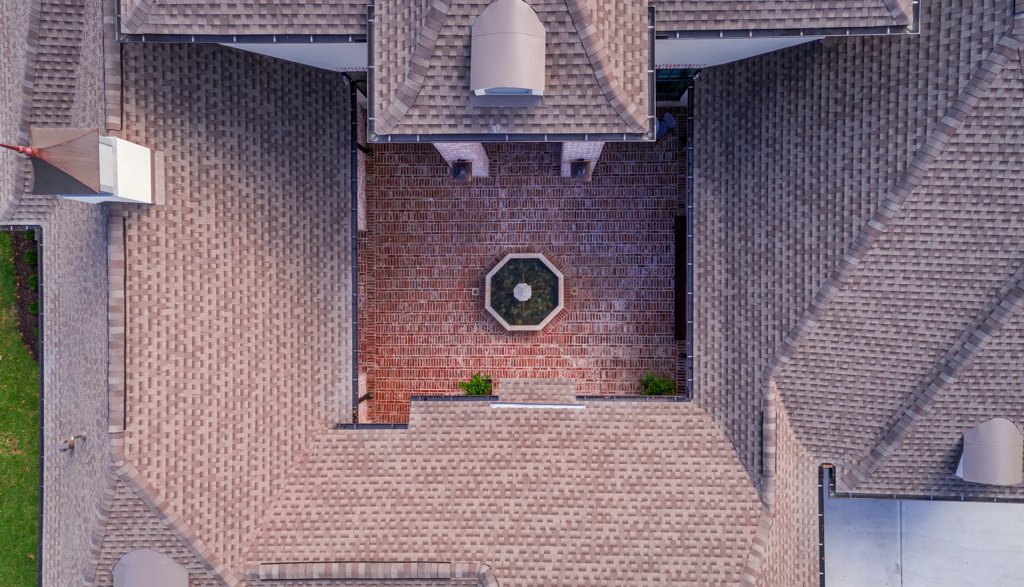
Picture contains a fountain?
Yes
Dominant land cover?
buildings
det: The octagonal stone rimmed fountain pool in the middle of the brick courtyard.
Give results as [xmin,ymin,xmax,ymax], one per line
[485,252,564,331]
